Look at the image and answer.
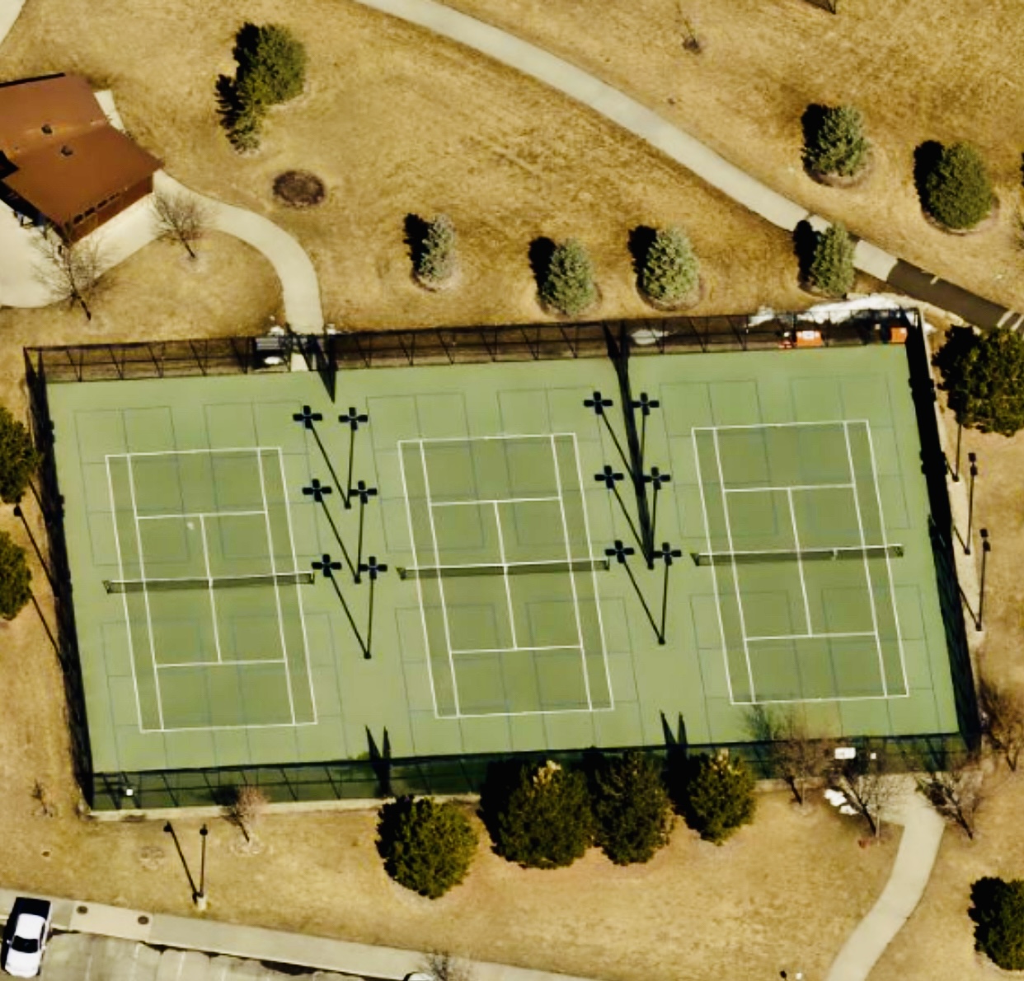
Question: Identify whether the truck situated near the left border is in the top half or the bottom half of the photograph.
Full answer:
Seen from above, the truck situated near the left border lies in the bottom half of the view.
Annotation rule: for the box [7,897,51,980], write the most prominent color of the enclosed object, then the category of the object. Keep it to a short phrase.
white truck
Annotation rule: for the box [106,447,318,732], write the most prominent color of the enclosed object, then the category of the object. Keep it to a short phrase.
green tennis court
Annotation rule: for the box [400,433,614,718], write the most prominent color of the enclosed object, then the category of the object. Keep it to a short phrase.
green tennis court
